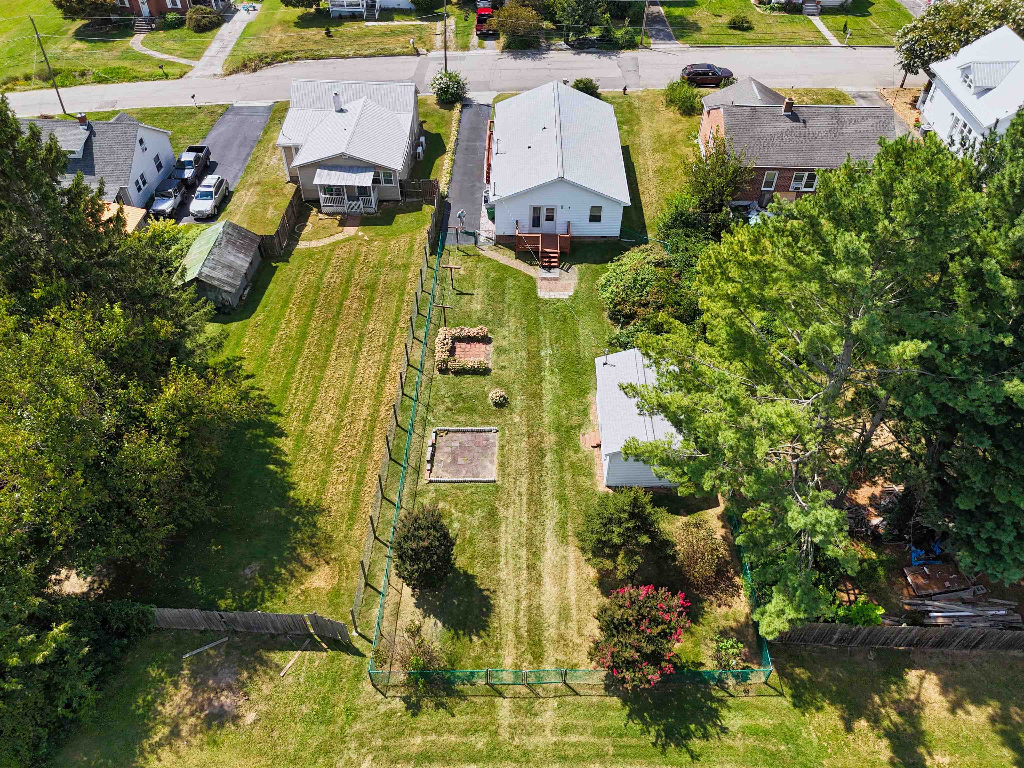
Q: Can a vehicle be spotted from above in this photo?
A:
Yes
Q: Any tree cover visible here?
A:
Yes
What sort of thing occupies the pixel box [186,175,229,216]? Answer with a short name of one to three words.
car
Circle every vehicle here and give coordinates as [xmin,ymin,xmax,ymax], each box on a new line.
[166,148,210,186]
[186,175,229,216]
[683,61,741,88]
[140,179,186,223]
[477,4,501,32]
